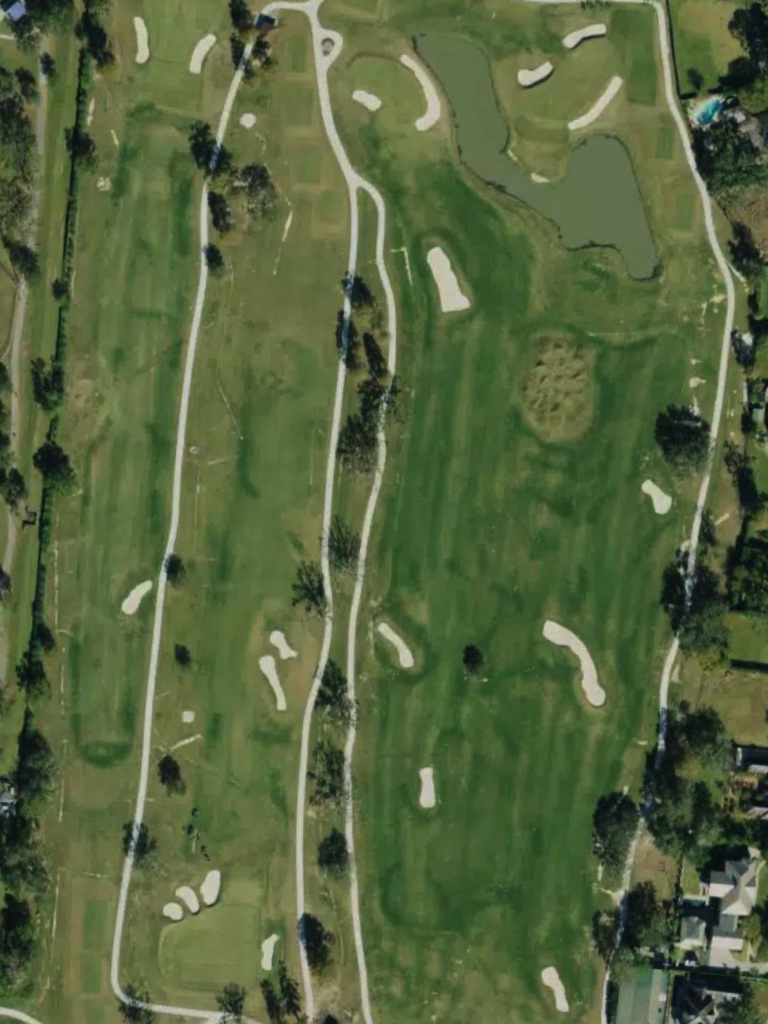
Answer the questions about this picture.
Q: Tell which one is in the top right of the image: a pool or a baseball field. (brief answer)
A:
pool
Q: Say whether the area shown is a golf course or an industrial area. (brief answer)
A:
golf course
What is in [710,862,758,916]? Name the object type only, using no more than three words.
house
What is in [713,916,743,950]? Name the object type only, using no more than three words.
building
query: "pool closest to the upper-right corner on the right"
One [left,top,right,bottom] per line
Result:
[687,93,726,127]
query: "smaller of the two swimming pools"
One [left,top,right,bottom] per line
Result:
[682,895,708,910]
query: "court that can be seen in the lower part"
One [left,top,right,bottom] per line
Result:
[616,969,667,1024]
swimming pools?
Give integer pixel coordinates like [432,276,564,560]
[682,895,708,910]
[687,93,726,127]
